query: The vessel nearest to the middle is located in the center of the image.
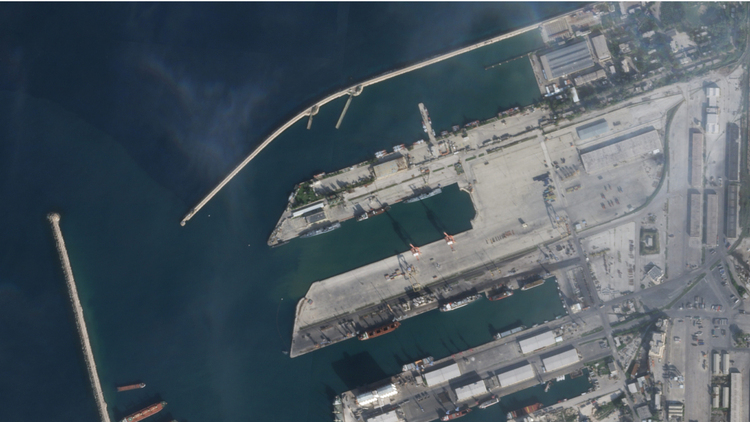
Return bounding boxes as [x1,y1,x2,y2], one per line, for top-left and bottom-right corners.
[357,205,391,221]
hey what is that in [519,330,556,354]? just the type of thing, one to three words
building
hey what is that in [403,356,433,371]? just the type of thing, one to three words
ship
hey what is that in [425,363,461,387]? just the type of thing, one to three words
building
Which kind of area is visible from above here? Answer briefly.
port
